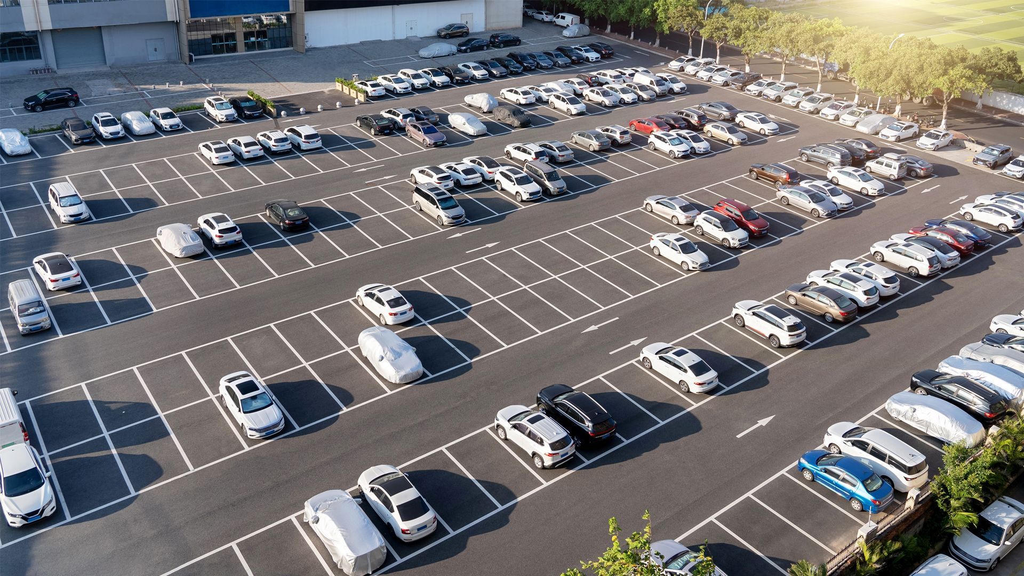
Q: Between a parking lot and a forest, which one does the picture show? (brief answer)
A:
parking lot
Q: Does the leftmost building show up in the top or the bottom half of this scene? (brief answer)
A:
top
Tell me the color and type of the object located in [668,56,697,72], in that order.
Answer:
white car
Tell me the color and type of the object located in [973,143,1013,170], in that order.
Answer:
gray car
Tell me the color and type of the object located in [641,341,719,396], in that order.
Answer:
white car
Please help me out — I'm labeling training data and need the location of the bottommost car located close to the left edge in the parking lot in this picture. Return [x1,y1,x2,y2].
[0,443,57,527]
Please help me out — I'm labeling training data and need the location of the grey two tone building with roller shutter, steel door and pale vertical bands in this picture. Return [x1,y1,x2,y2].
[0,0,185,78]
